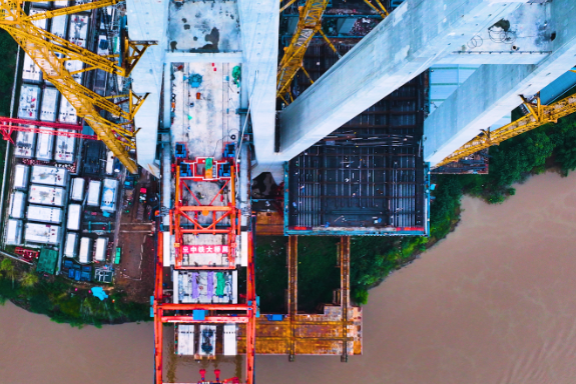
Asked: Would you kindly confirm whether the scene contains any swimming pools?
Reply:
No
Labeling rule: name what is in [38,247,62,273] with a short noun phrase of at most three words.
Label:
building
